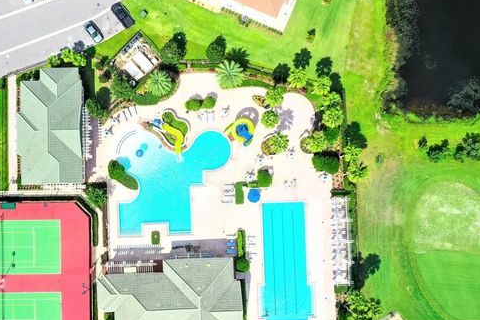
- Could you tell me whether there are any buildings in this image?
Yes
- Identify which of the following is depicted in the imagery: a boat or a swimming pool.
swimming pool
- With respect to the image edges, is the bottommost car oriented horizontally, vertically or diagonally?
diagonally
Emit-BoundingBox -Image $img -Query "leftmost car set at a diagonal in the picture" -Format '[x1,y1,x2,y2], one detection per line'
[84,20,104,44]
